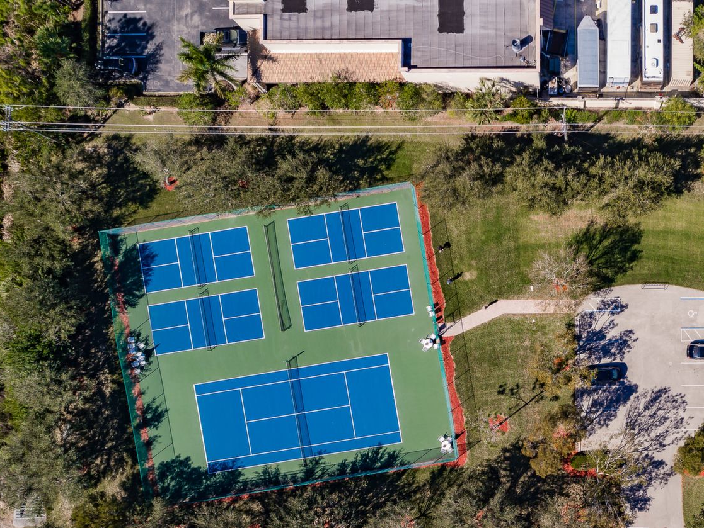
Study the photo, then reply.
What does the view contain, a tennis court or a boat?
tennis court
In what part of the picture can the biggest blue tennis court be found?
bottom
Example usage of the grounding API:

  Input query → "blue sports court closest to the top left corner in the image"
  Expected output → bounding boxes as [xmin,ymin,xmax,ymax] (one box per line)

[138,227,254,293]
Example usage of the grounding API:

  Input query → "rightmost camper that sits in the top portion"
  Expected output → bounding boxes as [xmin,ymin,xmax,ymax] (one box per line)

[639,0,663,94]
